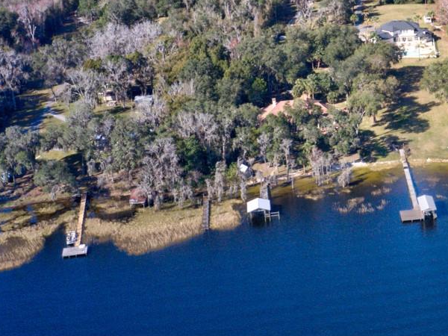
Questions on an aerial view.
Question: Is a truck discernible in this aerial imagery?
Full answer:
No, the photo shows no truck.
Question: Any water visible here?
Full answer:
Yes, water can be seen from above here.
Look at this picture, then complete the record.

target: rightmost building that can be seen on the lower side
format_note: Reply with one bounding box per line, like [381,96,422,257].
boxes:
[416,191,438,224]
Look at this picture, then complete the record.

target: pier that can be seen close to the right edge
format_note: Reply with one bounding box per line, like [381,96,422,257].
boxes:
[398,147,426,226]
